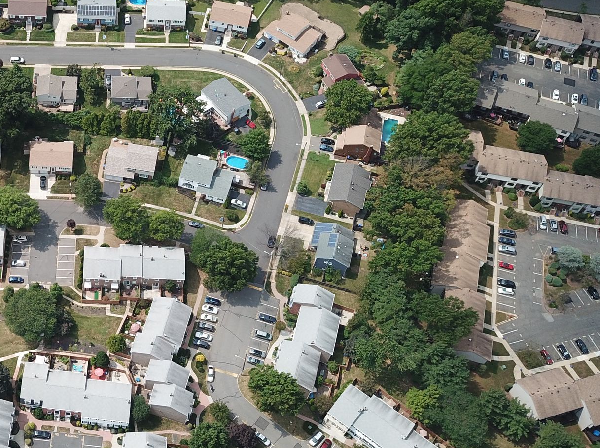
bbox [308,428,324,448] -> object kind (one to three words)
car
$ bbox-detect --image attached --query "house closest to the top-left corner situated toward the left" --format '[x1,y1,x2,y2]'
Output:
[7,0,47,32]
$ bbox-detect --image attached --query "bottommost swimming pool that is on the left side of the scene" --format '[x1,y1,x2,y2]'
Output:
[225,156,249,171]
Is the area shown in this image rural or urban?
urban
